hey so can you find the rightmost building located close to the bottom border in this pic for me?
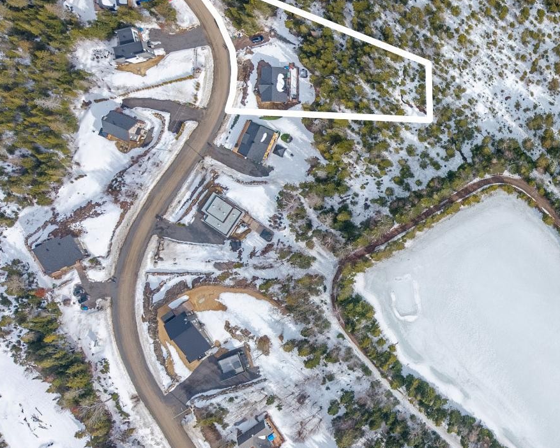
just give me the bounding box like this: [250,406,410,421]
[236,411,292,448]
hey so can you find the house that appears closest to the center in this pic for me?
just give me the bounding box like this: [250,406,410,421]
[203,191,276,243]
